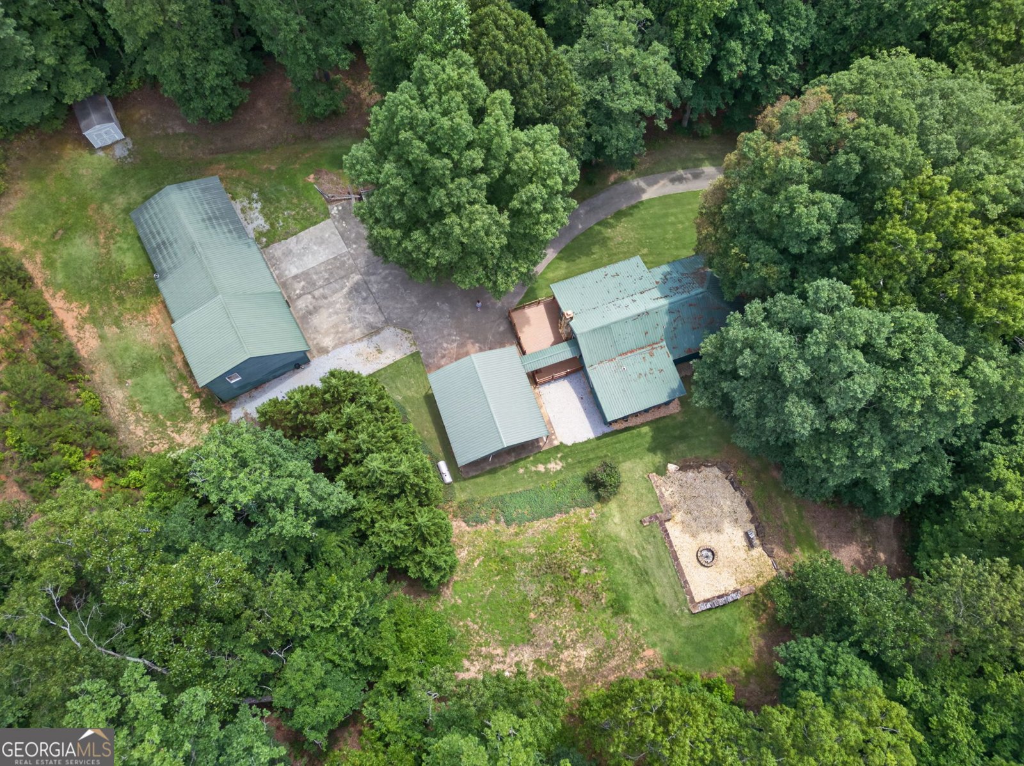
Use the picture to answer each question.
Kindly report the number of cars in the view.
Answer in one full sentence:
The picture shows no cars.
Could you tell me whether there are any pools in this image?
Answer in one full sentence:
No, there appears to be no pool in this shot.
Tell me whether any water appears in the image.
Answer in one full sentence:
No, there is no water in the image.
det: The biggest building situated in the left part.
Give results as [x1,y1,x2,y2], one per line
[129,175,312,398]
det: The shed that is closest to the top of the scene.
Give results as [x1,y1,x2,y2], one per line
[74,90,124,147]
